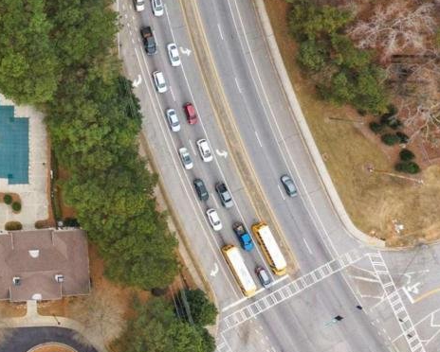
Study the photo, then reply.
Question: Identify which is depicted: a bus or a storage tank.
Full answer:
It is a bus that can be seen here.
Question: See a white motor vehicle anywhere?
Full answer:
Yes, a white motor vehicle can be made out from above.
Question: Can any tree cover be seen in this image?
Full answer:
Yes, the picture does contain tree cover.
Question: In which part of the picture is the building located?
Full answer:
The building sits in the bottom left section of the image.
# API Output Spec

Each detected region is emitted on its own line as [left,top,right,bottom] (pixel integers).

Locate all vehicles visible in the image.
[150,0,163,17]
[279,173,297,198]
[253,264,271,289]
[132,0,144,12]
[213,180,233,209]
[181,101,198,124]
[232,221,252,250]
[196,138,211,162]
[166,42,181,67]
[206,208,221,231]
[249,220,288,275]
[164,108,180,132]
[139,26,157,54]
[178,145,193,170]
[219,242,257,298]
[151,69,167,93]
